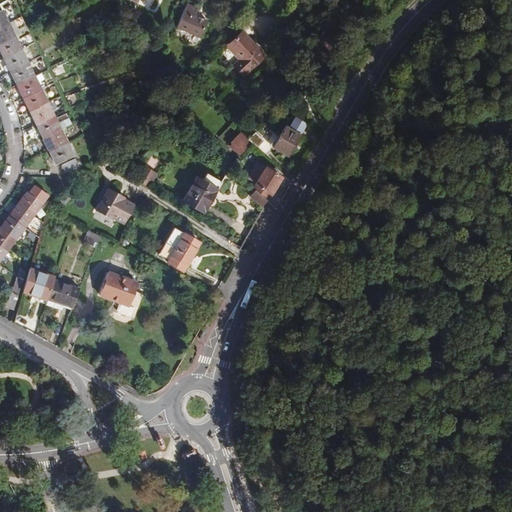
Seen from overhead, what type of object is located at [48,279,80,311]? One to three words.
house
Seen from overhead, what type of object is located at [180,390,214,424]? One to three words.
roundabout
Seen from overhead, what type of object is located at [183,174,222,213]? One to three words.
house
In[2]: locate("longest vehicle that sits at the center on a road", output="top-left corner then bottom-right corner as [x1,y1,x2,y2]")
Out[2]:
[241,280,257,308]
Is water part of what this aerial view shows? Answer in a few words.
No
